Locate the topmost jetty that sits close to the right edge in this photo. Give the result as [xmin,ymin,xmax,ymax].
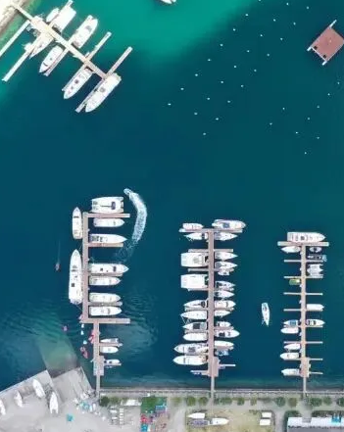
[277,242,330,391]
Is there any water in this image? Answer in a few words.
Yes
